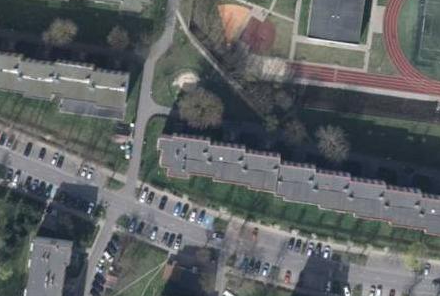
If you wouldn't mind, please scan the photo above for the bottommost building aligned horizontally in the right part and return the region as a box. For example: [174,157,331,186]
[158,133,440,233]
